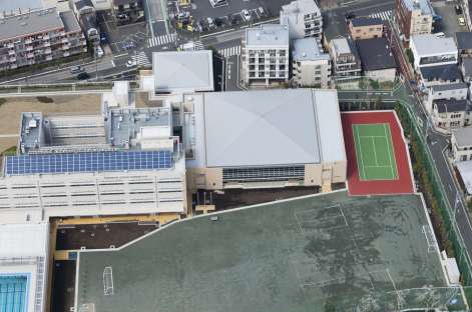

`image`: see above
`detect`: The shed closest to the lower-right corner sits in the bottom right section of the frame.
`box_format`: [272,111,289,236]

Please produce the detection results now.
[443,258,460,286]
